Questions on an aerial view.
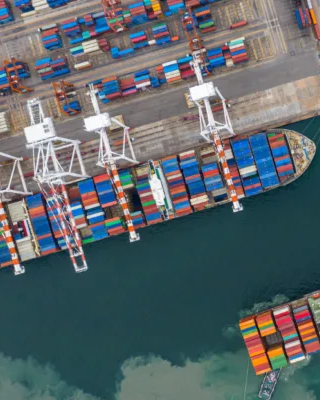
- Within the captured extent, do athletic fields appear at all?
No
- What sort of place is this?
port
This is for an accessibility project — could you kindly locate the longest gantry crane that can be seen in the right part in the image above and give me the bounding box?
[188,48,244,214]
